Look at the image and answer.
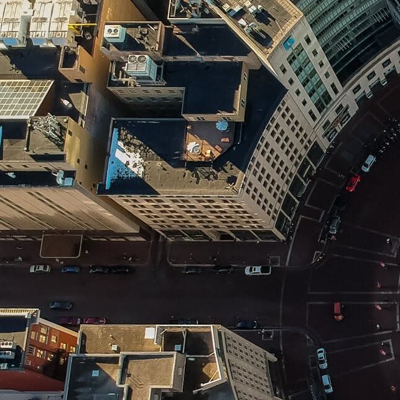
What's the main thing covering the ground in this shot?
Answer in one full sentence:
For the most part, this view shows buildings.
